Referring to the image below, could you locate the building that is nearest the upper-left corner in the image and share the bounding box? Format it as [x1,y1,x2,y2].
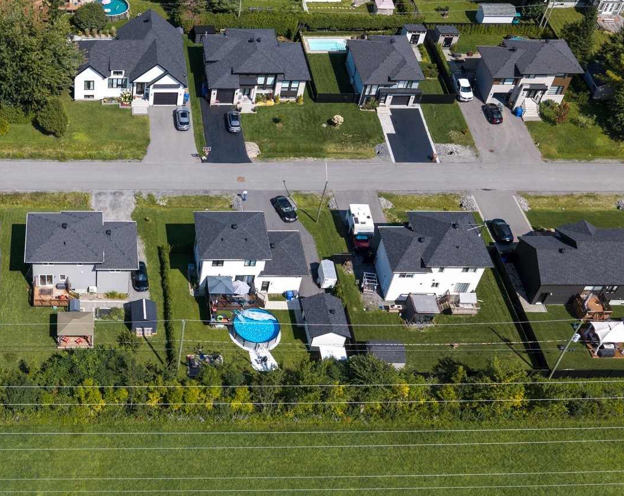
[70,10,185,110]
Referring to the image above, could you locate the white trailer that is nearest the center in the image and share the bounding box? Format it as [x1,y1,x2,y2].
[316,256,341,291]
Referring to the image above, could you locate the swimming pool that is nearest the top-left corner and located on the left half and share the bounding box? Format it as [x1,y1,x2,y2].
[94,0,130,24]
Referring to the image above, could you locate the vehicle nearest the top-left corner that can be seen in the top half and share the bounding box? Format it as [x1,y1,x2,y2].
[175,110,191,129]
